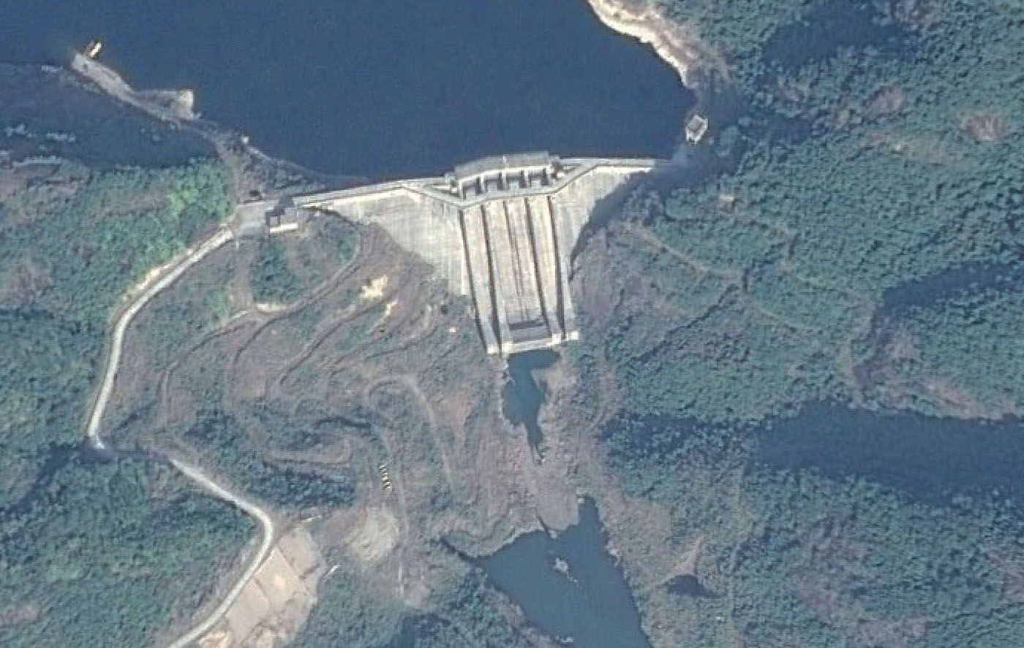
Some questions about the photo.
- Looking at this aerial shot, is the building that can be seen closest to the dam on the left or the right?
left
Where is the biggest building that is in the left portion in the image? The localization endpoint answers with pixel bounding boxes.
[268,209,300,232]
